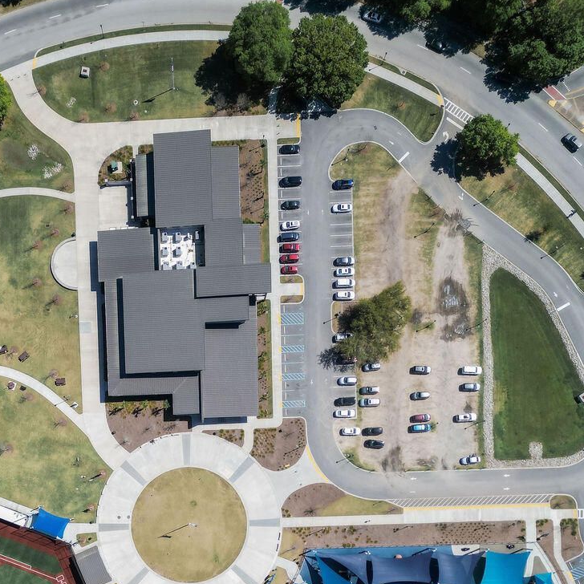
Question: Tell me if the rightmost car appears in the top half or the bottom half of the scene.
top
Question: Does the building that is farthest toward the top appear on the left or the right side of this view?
left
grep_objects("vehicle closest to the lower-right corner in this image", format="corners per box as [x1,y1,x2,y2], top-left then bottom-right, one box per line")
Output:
[459,452,480,465]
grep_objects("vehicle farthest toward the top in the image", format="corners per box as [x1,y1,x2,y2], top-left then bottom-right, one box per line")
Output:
[363,10,383,27]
